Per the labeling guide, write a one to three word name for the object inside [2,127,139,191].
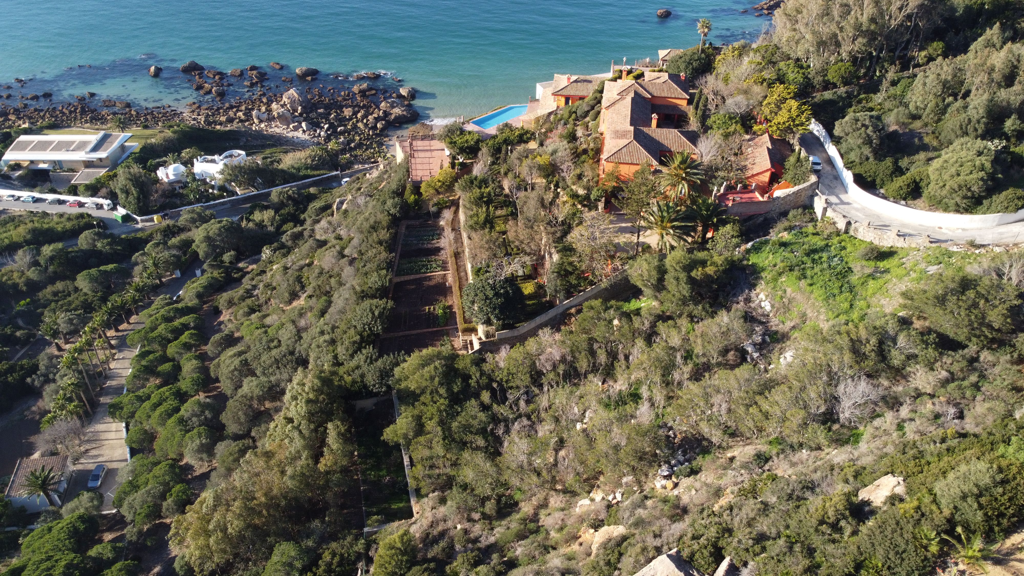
house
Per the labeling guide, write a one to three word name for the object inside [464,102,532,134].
swimming pool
